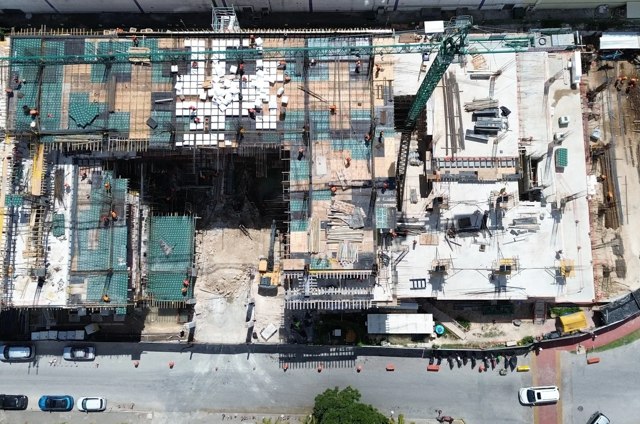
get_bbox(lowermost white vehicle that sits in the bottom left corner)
[78,396,107,412]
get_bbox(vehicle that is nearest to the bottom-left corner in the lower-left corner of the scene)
[0,393,29,411]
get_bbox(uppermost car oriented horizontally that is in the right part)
[519,386,558,405]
